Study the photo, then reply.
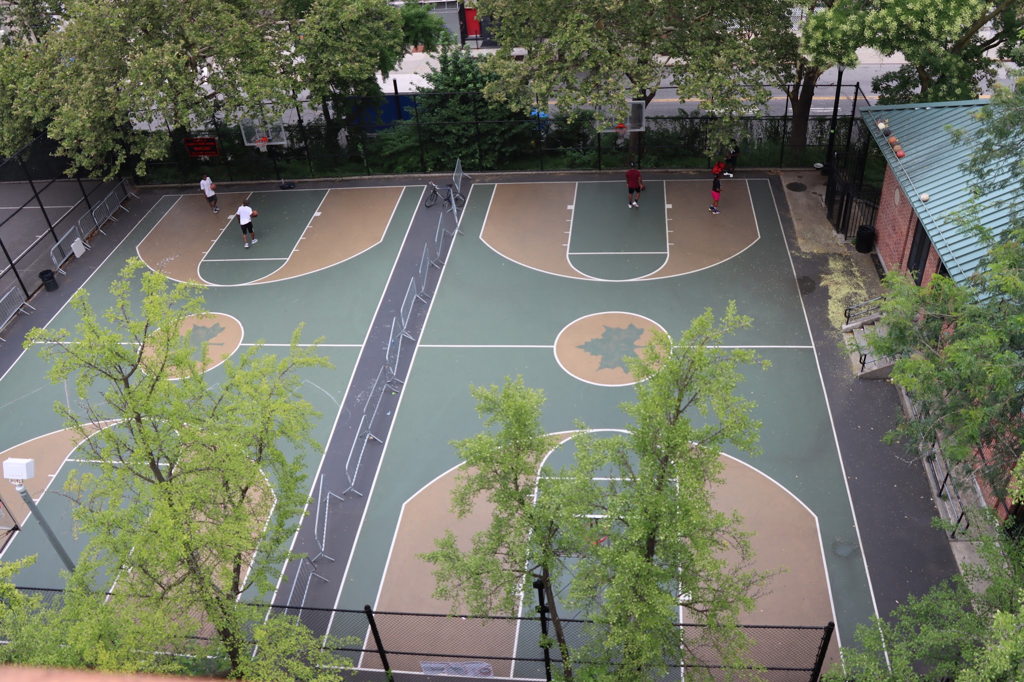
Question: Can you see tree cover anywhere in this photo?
Yes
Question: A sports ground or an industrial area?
sports ground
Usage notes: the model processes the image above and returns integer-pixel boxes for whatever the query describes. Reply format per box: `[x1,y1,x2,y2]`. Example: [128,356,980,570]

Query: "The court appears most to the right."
[332,179,885,682]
